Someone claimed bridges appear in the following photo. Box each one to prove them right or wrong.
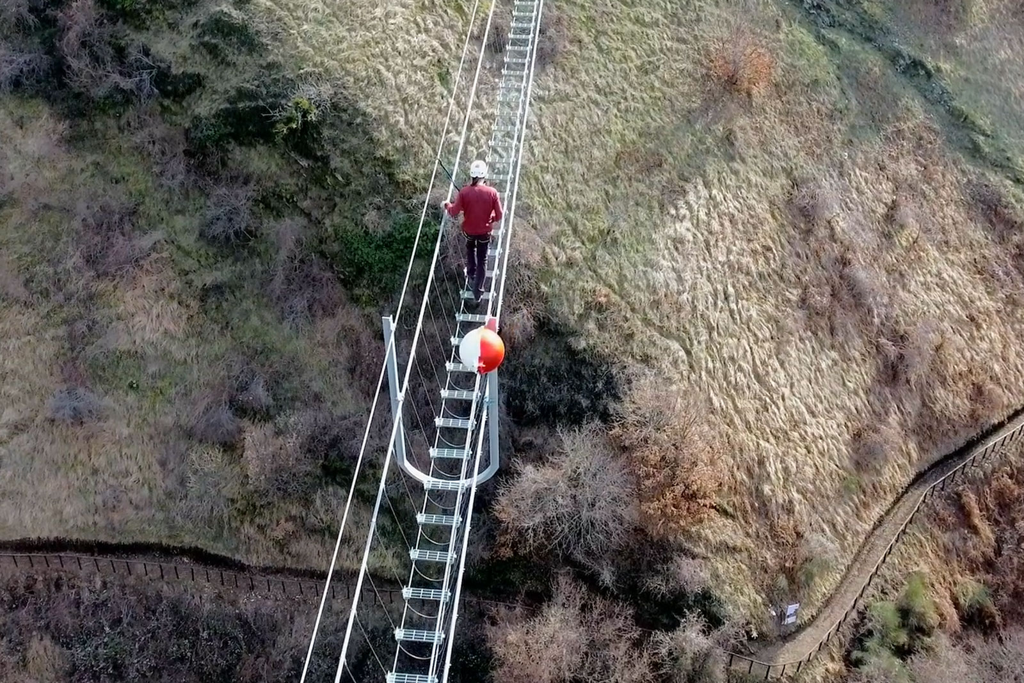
[301,0,544,683]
